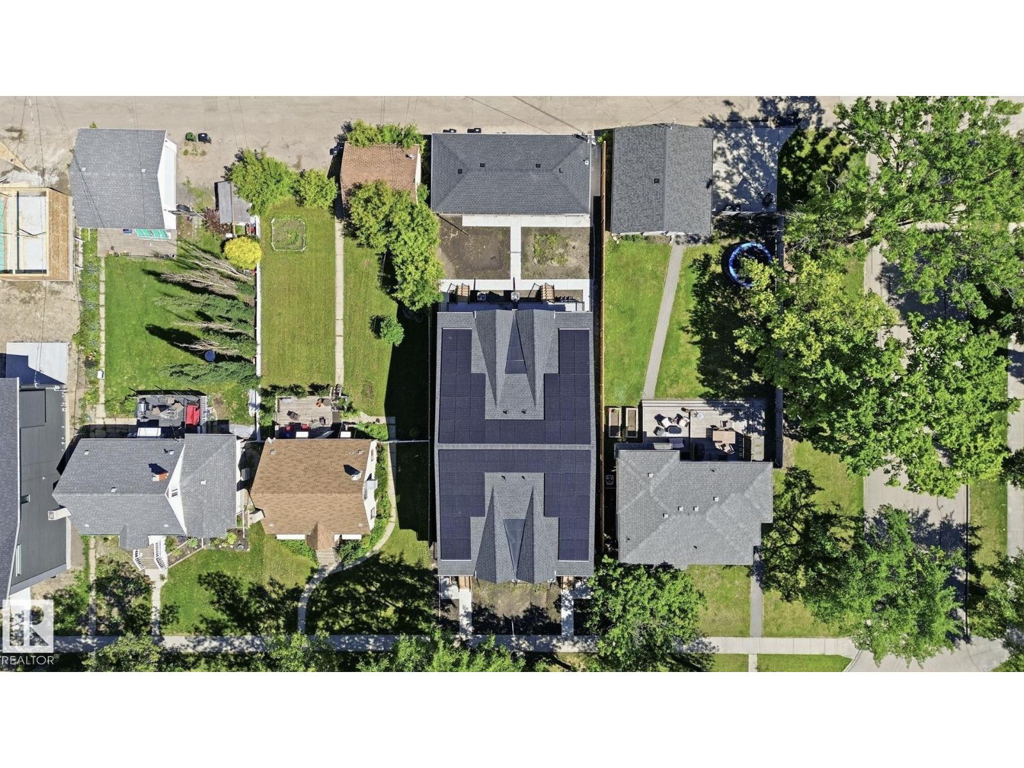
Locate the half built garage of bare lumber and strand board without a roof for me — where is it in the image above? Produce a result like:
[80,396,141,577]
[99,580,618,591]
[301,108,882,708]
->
[0,186,69,275]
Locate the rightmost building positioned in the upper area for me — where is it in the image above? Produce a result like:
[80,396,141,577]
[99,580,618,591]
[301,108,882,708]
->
[610,119,714,238]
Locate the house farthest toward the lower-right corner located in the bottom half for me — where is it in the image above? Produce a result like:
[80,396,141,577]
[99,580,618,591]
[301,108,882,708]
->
[617,443,773,573]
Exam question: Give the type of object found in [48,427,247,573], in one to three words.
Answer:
house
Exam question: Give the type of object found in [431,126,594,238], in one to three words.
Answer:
building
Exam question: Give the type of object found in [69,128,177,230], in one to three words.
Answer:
building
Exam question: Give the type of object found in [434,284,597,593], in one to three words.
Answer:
house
